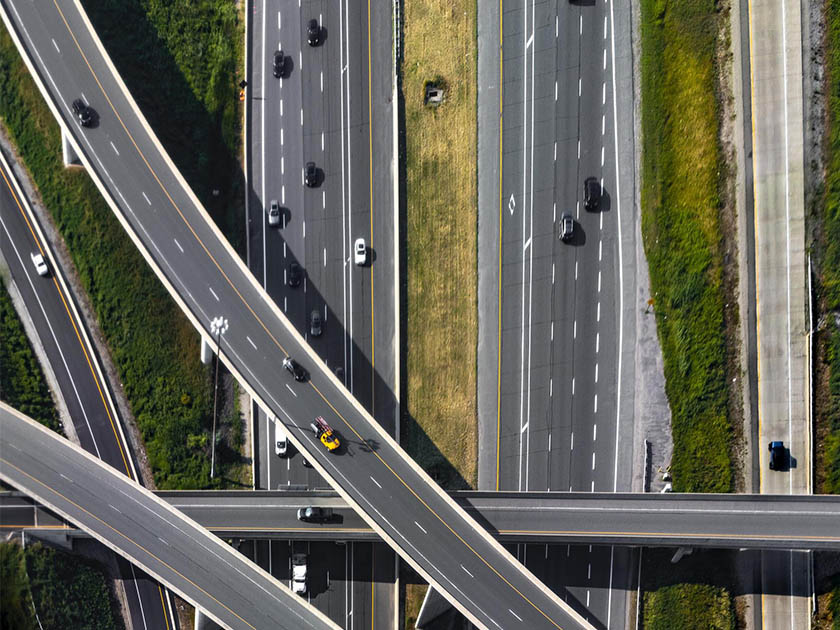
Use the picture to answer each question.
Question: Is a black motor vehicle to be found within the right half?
Yes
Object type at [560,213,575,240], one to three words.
car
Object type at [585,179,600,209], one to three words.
car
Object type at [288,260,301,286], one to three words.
vehicle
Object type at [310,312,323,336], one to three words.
vehicle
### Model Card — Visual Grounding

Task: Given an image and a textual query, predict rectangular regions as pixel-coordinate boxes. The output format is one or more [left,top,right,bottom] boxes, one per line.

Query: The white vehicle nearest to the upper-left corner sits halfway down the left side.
[30,248,48,277]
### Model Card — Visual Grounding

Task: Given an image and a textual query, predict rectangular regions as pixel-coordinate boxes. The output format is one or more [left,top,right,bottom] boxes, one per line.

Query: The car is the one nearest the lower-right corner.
[769,441,786,471]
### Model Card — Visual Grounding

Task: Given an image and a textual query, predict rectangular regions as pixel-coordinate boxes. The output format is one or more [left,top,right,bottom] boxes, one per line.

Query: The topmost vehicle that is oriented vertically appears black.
[307,20,320,46]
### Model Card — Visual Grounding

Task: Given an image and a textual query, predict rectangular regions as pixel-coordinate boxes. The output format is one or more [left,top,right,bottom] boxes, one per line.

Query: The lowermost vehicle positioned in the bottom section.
[293,555,307,591]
